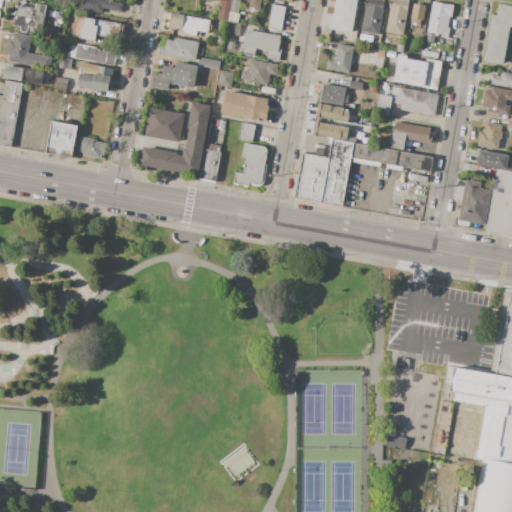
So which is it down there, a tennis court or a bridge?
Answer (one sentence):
The image shows a tennis court.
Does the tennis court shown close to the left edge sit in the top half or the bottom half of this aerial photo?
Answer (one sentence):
It is in the bottom half that the tennis court shown close to the left edge appears.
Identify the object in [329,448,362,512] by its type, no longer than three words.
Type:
tennis court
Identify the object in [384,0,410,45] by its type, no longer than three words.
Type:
house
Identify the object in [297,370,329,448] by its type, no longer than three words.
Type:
tennis court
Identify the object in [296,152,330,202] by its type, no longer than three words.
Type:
building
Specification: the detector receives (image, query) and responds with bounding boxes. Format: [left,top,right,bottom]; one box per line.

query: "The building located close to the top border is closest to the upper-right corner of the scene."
[483,4,512,65]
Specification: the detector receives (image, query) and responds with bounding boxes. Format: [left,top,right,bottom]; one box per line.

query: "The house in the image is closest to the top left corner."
[14,3,48,34]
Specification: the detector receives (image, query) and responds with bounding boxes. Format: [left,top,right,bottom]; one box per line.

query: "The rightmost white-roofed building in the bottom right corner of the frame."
[452,367,512,512]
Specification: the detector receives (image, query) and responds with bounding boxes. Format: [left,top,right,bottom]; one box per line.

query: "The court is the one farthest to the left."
[0,407,42,488]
